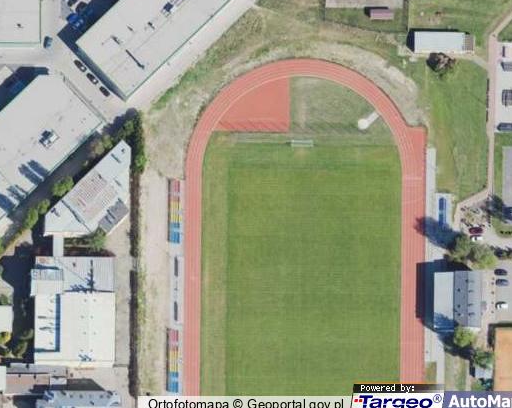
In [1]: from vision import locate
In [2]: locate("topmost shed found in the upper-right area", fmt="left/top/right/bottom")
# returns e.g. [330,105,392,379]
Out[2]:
[369,8,395,21]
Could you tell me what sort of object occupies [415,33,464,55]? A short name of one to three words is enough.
shed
